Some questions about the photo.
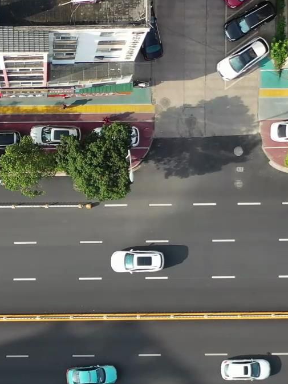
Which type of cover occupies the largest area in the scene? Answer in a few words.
paved ground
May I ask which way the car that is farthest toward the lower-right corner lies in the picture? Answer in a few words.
from side to side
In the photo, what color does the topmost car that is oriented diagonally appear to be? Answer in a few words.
black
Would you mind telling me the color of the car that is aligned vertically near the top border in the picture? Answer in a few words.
black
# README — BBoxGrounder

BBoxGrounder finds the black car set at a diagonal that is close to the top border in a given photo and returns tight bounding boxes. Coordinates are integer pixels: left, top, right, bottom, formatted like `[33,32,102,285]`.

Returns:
[223,0,277,42]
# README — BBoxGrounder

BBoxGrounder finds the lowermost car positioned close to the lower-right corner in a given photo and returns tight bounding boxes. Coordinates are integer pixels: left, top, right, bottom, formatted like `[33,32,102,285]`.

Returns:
[221,357,269,382]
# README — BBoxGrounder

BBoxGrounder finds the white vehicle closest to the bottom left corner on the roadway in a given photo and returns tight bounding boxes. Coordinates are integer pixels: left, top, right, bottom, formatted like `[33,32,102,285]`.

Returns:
[110,248,164,275]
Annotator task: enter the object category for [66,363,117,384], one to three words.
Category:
car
